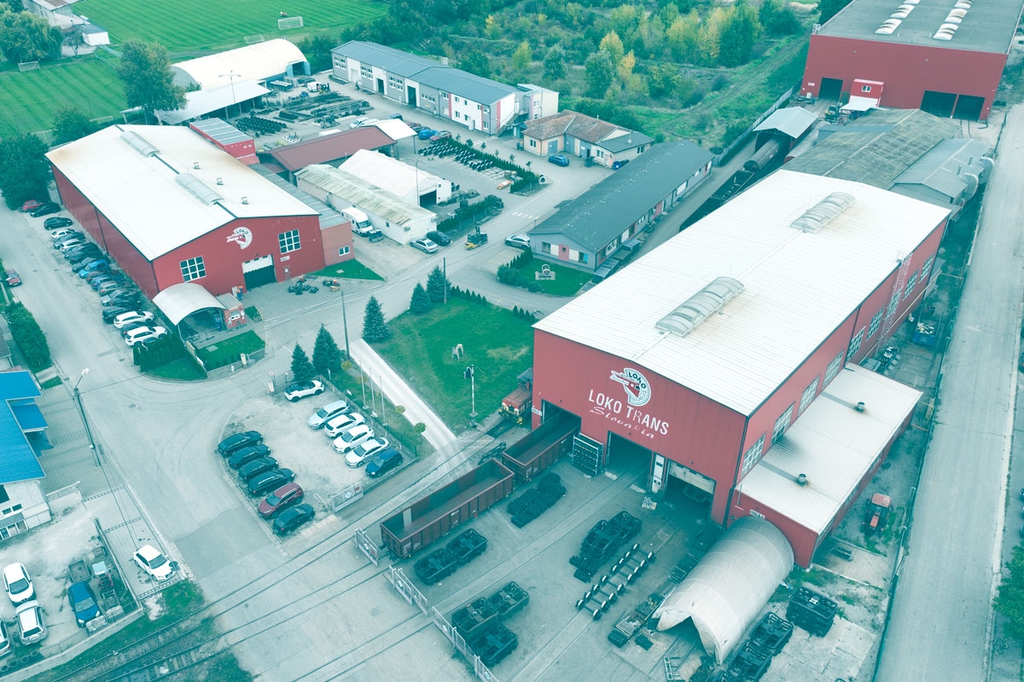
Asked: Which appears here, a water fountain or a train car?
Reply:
train car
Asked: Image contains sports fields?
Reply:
Yes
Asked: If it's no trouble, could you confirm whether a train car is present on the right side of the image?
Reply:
Yes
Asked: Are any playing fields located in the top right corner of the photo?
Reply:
No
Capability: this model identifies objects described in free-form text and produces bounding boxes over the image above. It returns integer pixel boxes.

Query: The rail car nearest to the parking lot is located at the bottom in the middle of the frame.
[377,456,518,564]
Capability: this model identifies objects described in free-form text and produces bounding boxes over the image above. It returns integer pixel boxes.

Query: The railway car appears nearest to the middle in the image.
[491,361,531,427]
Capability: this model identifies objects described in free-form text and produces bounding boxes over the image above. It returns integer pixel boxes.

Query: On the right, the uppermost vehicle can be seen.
[826,98,838,119]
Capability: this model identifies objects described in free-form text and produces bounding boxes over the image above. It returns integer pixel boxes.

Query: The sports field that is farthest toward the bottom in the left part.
[0,55,135,151]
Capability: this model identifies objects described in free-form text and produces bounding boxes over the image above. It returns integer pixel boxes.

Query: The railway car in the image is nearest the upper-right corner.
[794,135,817,156]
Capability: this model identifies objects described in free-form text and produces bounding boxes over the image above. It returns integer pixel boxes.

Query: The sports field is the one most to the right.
[82,0,352,51]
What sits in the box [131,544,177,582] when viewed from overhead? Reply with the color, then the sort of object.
white car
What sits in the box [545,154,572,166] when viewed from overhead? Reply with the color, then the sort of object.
blue vehicle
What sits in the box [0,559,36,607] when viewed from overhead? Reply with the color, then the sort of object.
white car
